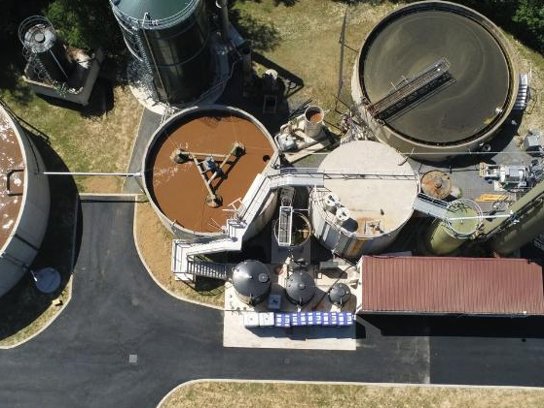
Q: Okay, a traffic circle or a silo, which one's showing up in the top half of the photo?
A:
silo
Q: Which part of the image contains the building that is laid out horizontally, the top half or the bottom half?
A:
bottom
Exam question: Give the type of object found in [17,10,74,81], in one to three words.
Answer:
silo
